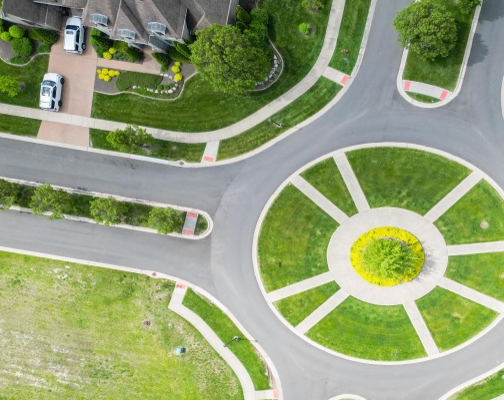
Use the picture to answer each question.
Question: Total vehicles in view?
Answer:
two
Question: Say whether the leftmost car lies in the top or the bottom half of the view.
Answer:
top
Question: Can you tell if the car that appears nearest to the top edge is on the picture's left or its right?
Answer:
left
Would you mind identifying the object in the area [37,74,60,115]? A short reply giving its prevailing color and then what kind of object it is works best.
white car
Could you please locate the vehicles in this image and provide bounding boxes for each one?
[61,17,84,57]
[37,74,60,115]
